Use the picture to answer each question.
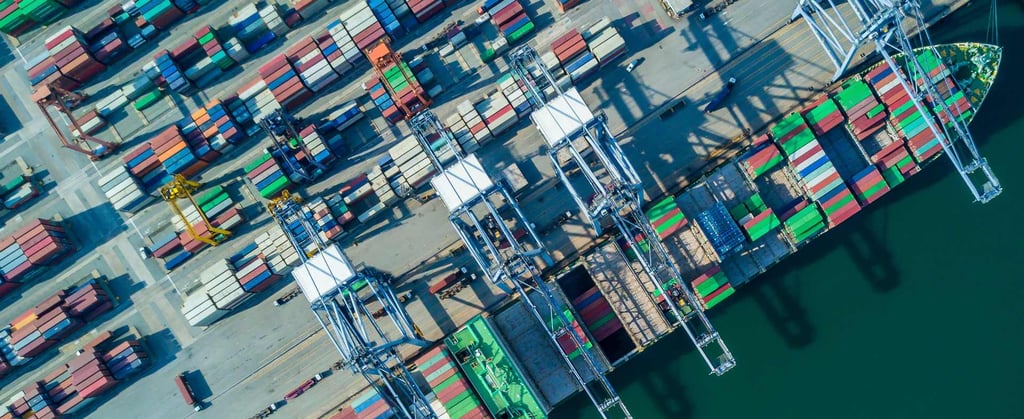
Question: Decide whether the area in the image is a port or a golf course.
port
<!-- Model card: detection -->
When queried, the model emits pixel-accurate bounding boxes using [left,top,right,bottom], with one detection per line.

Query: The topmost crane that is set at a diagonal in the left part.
[363,38,433,117]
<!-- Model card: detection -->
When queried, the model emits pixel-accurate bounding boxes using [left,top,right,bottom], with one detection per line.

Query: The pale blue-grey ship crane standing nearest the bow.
[782,0,1004,202]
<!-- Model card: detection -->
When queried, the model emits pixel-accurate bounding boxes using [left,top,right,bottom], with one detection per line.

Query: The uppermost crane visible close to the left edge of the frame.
[27,83,117,161]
